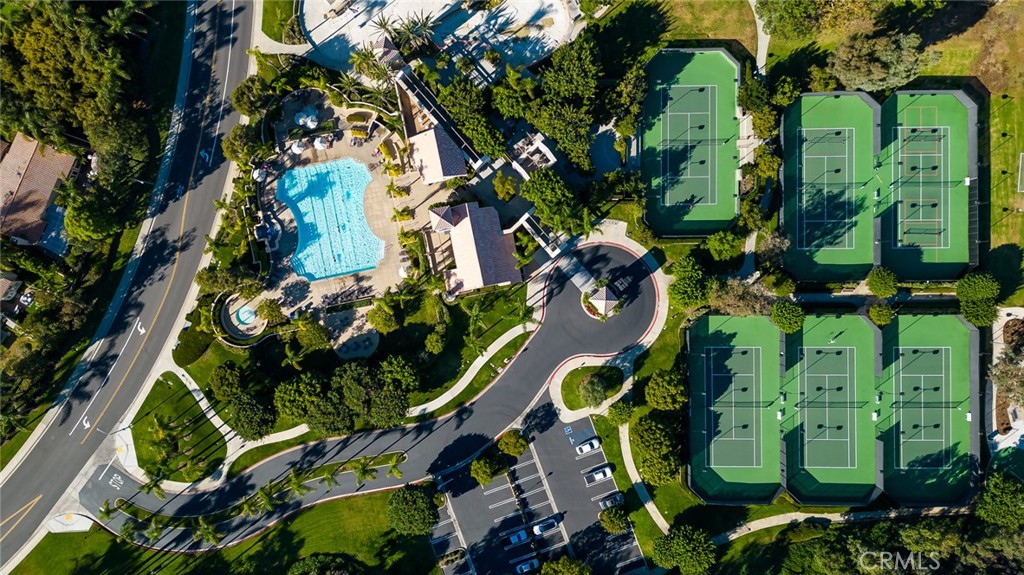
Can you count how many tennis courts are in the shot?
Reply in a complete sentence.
Looking from above, you can make out 6 tennis courts.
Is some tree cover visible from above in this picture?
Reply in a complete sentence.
Yes, tree cover shows up in the scene.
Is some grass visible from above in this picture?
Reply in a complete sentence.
Yes, there's grass in this view.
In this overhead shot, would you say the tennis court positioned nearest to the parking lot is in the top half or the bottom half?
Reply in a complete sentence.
Seen from above, the tennis court positioned nearest to the parking lot lies in the bottom half of the view.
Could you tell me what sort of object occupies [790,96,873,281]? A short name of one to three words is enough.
tennis court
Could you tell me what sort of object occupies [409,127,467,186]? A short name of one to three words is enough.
building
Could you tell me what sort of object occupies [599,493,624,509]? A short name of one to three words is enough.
car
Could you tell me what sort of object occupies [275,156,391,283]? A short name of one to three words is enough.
swimming pool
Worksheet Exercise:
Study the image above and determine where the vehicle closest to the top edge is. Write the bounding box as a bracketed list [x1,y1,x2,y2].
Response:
[576,438,600,454]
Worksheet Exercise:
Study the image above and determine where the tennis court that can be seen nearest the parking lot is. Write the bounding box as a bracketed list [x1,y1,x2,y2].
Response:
[689,317,780,502]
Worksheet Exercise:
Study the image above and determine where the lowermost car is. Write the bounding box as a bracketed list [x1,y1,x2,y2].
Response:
[515,557,540,573]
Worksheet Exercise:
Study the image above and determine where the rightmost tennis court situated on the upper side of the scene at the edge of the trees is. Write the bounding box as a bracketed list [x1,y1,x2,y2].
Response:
[873,95,968,280]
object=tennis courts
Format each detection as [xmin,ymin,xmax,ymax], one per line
[689,317,780,502]
[781,317,874,503]
[873,95,968,280]
[646,50,740,235]
[790,96,873,281]
[875,317,970,503]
